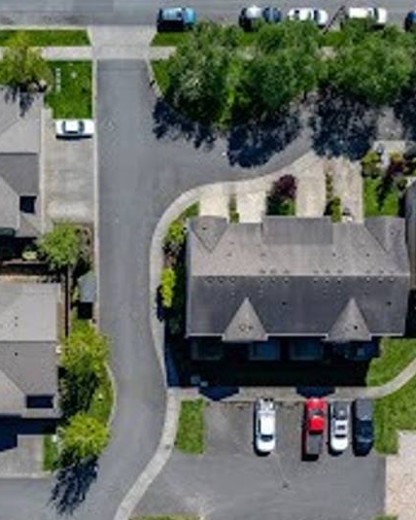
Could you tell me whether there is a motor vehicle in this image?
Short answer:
Yes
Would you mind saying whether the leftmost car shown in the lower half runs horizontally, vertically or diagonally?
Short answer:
vertically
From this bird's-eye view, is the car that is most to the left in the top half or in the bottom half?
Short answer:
top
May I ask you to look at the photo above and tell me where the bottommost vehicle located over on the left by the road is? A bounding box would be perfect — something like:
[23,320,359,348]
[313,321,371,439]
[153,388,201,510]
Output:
[52,119,95,139]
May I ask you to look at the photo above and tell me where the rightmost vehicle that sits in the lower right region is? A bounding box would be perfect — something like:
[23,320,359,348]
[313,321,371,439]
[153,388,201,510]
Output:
[352,400,375,453]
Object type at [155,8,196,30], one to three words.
car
